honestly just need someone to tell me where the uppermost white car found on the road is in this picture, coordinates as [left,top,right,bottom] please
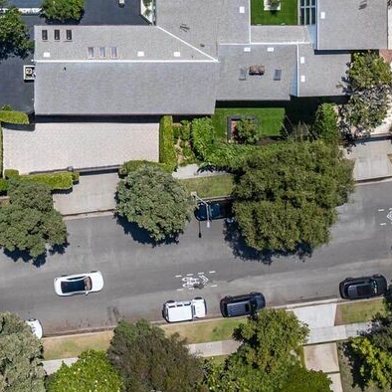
[55,270,102,293]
